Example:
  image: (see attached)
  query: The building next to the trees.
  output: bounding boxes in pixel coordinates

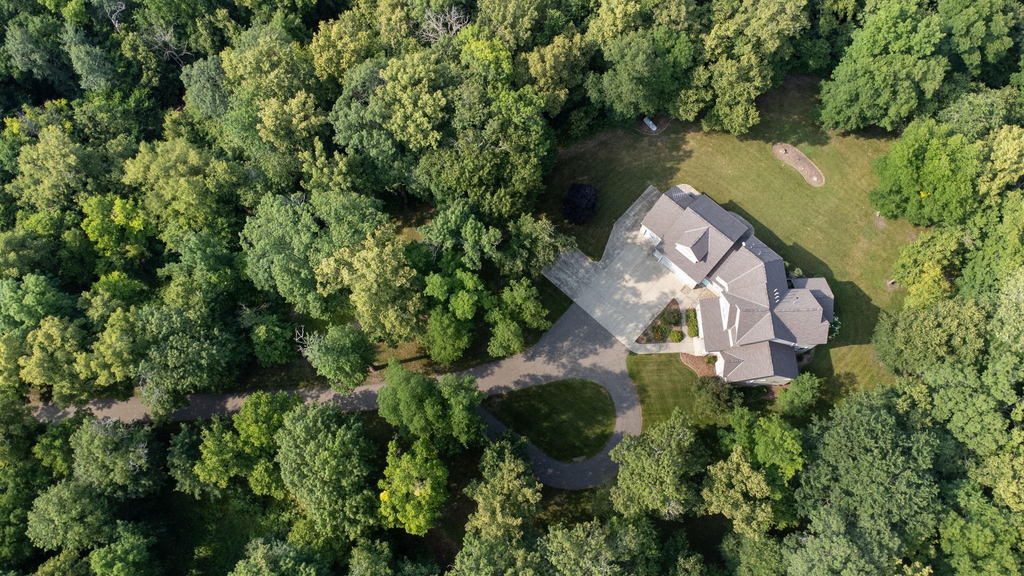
[641,186,835,385]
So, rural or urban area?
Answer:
rural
